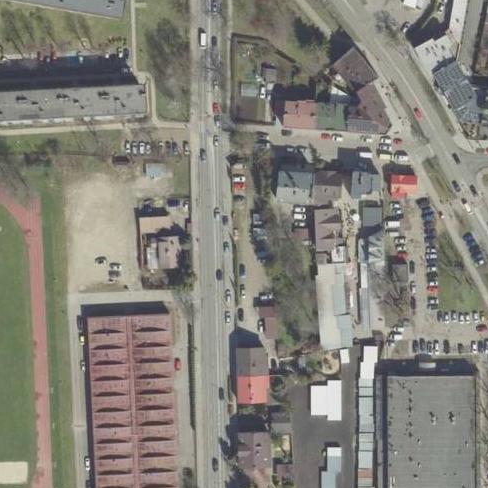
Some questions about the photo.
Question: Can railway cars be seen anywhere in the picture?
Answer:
No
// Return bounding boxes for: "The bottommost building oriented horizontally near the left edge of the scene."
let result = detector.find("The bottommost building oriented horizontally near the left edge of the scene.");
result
[0,85,146,125]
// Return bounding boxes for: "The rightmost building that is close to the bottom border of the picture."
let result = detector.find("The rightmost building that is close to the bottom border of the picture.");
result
[387,376,476,488]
